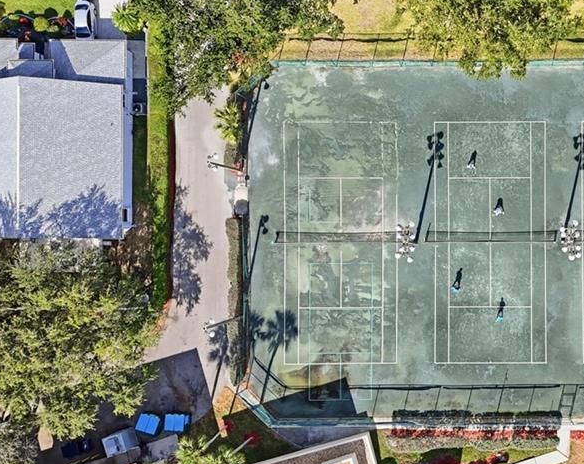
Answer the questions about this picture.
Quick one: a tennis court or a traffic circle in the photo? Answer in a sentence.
This aerial view contains a tennis court.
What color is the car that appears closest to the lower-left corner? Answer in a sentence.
In this view, the car that appears closest to the lower-left corner is black.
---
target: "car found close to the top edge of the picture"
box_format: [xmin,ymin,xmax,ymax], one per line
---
[74,0,100,39]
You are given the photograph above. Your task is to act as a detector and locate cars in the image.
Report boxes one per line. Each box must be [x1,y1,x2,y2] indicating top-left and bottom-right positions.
[52,434,100,463]
[74,0,100,39]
